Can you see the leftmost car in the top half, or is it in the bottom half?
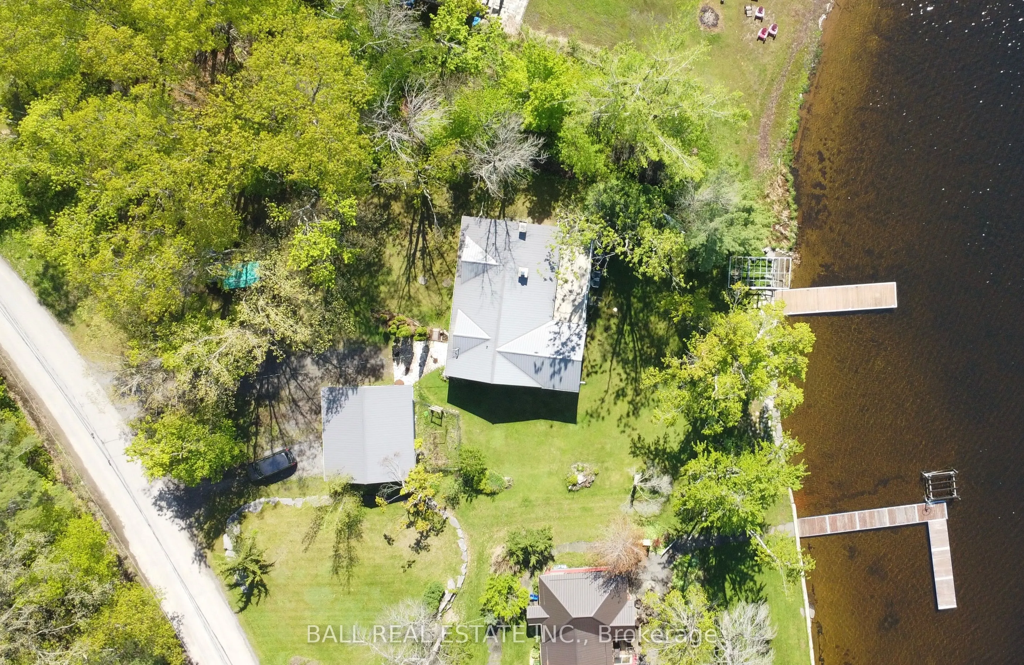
bottom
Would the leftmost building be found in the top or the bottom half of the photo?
bottom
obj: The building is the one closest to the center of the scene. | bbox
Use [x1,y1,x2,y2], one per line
[443,217,594,395]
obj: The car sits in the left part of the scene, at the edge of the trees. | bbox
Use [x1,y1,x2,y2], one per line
[245,452,296,486]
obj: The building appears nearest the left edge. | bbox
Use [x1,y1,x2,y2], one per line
[320,383,417,486]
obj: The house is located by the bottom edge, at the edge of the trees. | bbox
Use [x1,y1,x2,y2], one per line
[527,567,637,665]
